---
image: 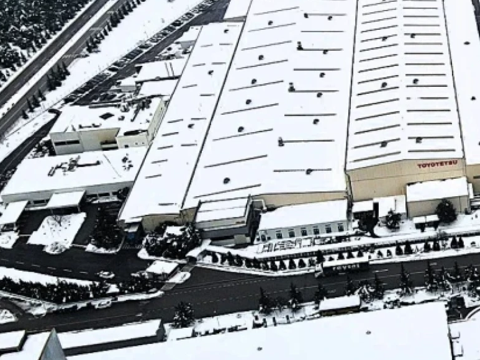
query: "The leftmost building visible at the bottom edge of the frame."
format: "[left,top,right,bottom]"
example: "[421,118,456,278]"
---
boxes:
[0,329,27,360]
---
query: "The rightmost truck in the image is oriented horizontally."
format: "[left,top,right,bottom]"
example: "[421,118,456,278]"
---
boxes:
[316,256,370,280]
